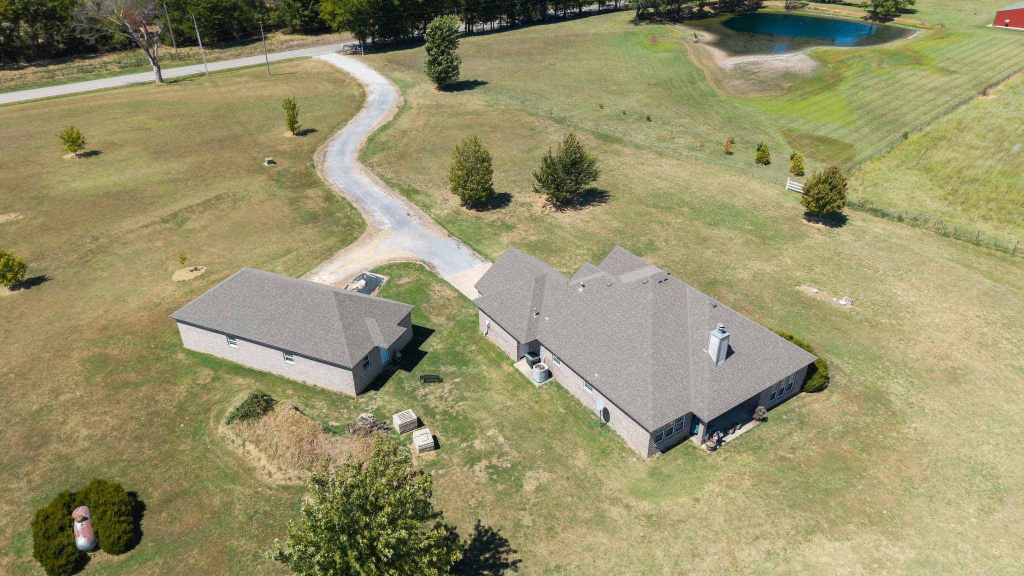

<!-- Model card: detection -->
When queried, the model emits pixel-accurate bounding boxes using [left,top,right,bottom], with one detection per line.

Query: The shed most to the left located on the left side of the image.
[168,266,415,396]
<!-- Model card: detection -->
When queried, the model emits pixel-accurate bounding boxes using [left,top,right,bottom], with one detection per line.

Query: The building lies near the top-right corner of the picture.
[980,2,1024,30]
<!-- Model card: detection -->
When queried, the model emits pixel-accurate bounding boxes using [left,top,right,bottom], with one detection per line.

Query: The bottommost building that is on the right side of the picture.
[472,245,820,458]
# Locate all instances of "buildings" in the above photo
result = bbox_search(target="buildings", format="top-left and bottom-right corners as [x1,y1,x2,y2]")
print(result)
[472,245,820,458]
[980,2,1024,30]
[168,266,415,396]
